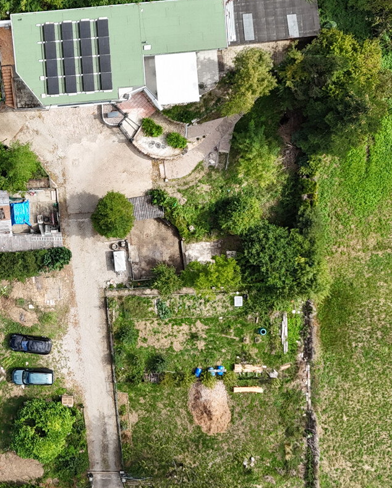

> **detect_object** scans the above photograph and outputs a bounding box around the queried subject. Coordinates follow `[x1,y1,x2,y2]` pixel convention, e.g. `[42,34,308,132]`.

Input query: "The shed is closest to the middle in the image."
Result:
[129,195,164,221]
